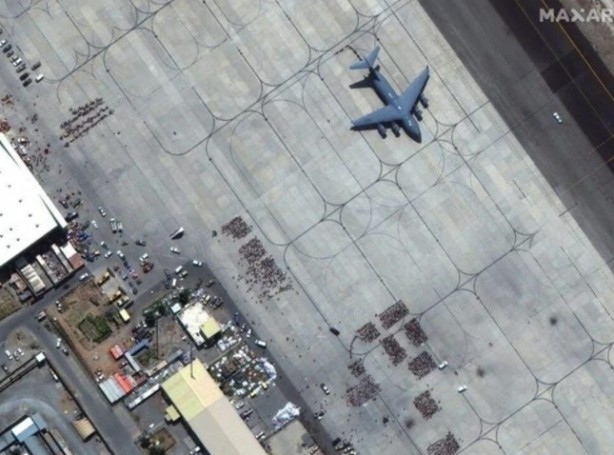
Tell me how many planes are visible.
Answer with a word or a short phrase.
one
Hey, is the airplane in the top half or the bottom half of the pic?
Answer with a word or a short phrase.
top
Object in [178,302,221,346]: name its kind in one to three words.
building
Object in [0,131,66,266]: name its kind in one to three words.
hangar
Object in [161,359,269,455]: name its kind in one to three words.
hangar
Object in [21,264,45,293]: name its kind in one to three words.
building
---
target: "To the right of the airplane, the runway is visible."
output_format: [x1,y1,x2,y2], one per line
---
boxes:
[490,0,614,173]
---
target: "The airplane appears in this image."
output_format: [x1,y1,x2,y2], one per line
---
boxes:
[347,46,431,142]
